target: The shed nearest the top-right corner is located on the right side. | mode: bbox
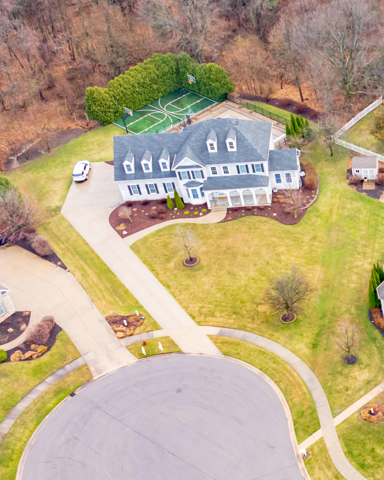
[351,155,383,185]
